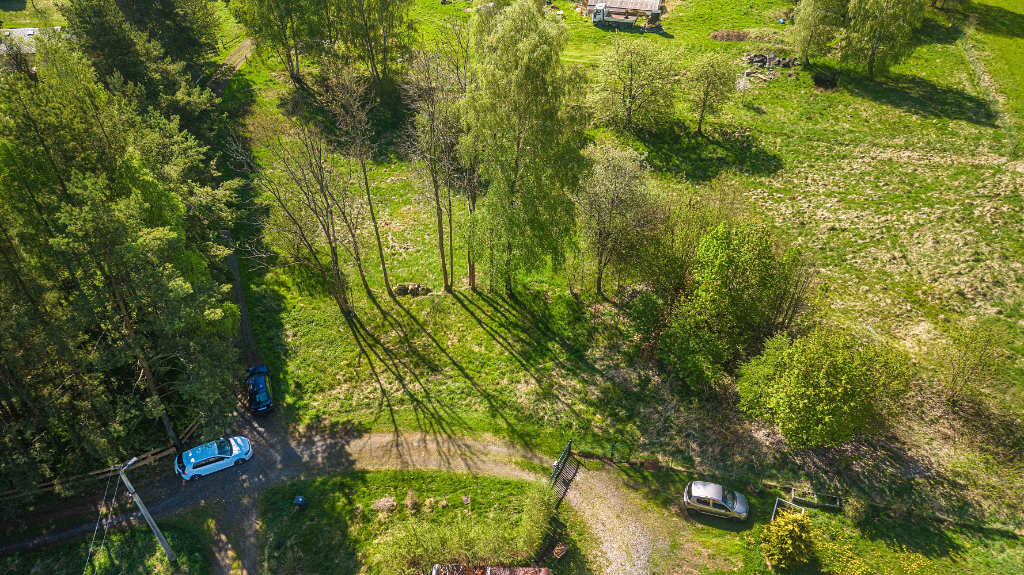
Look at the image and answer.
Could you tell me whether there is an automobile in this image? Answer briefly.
Yes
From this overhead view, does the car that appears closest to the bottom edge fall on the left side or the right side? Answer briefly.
right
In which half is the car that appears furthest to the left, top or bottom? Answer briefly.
bottom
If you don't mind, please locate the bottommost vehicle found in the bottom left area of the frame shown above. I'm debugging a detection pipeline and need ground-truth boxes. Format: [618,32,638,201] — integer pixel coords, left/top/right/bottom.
[174,432,254,480]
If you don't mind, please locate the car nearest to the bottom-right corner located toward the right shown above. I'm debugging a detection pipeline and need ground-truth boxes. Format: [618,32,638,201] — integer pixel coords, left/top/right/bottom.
[680,481,748,524]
